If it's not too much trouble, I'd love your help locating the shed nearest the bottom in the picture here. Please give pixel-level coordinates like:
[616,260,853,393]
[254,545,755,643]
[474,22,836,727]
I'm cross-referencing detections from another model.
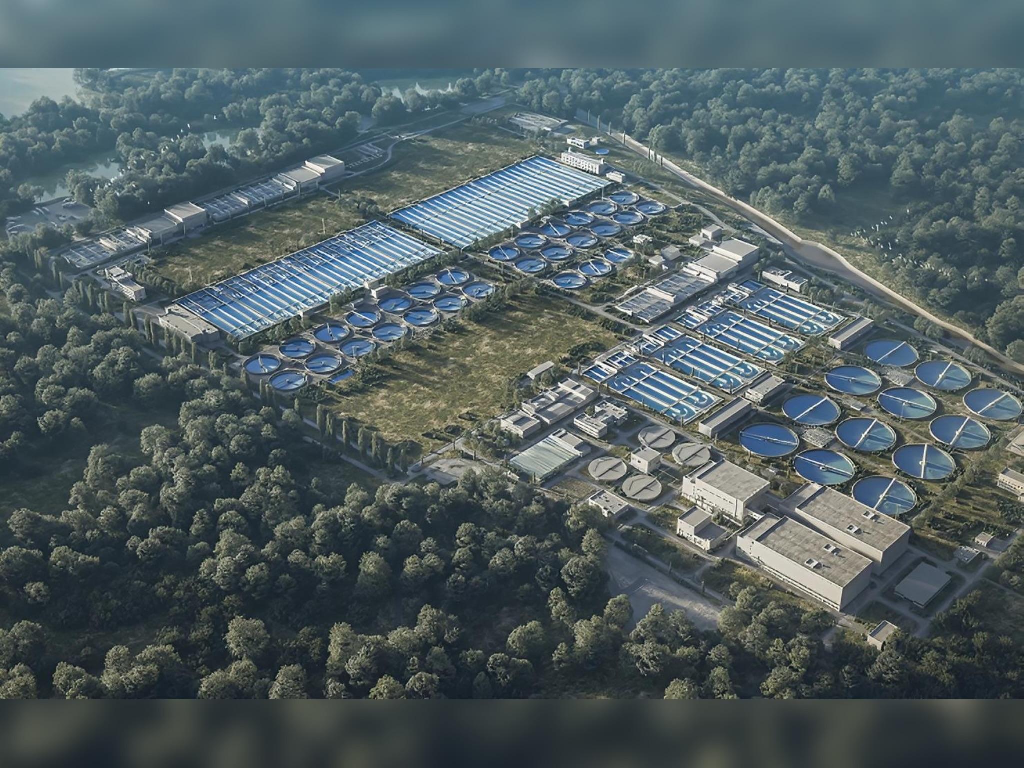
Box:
[872,620,898,650]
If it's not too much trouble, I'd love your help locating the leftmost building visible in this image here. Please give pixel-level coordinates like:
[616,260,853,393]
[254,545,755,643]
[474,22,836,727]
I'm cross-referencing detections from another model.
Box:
[103,268,146,302]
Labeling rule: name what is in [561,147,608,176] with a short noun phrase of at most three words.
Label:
house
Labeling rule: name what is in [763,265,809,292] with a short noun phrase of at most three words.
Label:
building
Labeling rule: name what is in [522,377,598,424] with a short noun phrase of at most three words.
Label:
building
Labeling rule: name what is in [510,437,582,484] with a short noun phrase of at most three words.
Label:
greenhouse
